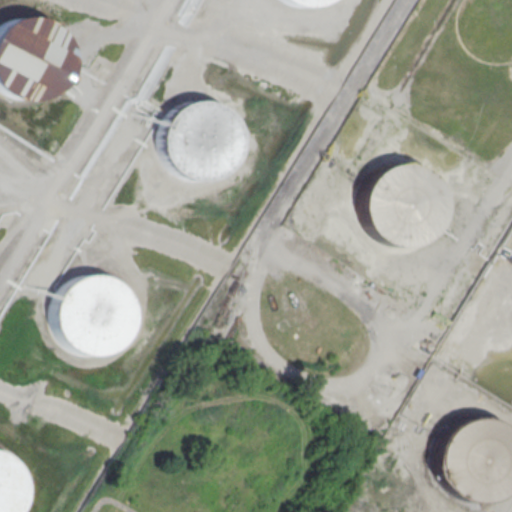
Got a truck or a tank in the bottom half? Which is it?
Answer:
tank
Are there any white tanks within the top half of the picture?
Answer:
Yes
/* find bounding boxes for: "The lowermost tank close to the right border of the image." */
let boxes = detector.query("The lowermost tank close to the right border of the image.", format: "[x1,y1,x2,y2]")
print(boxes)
[426,414,512,508]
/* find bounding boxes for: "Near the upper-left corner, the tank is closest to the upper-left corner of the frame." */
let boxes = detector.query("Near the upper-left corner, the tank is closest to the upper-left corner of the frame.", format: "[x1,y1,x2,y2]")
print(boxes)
[0,16,82,108]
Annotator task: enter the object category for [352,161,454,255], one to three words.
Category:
storage tank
